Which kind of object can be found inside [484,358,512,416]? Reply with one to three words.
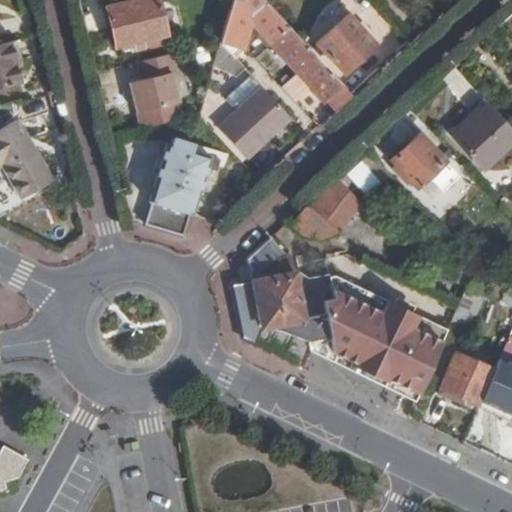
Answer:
building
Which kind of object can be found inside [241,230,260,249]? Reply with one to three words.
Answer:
car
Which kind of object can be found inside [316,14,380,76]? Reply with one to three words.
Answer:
house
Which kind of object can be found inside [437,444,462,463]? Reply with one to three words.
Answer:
vehicle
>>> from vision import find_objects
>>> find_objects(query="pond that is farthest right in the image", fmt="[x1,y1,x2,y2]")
[212,460,272,502]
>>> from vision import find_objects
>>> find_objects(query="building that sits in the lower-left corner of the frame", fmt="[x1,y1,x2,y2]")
[0,444,30,494]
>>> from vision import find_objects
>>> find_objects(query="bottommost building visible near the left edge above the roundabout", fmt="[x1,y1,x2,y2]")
[0,119,54,200]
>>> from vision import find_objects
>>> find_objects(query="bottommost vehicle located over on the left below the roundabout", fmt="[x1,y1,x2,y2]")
[147,492,170,508]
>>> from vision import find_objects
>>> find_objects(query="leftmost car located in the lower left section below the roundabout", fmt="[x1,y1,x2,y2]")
[120,468,142,480]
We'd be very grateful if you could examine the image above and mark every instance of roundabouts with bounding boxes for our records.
[36,245,218,414]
